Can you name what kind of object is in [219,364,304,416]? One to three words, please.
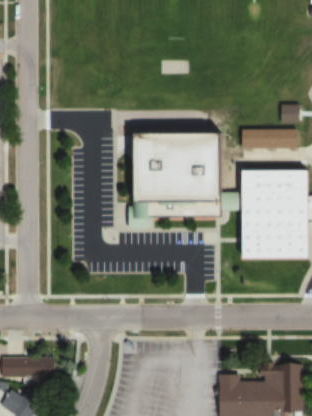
house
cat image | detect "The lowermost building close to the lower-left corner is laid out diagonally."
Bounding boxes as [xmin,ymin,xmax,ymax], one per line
[0,382,37,416]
